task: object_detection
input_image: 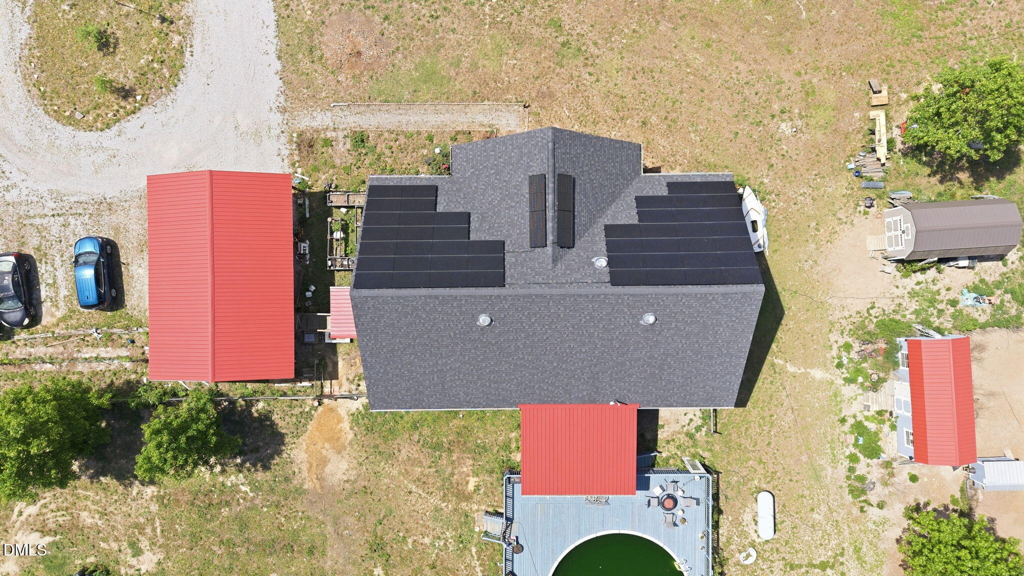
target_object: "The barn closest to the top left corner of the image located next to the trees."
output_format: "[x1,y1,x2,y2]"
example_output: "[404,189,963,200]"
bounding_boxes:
[146,170,306,386]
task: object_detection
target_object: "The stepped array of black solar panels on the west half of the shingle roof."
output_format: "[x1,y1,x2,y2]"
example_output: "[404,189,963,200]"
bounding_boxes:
[352,184,505,287]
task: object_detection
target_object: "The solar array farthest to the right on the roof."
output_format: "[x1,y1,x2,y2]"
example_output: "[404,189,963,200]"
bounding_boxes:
[602,181,760,284]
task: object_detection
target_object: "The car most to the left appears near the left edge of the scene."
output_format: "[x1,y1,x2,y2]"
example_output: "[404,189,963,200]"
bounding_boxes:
[0,253,39,329]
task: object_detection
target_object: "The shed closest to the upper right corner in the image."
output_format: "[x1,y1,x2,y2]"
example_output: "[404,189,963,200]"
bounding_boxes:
[881,196,1023,262]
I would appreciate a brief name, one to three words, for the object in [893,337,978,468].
shed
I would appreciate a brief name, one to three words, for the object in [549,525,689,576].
swimming pool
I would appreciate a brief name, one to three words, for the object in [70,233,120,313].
car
